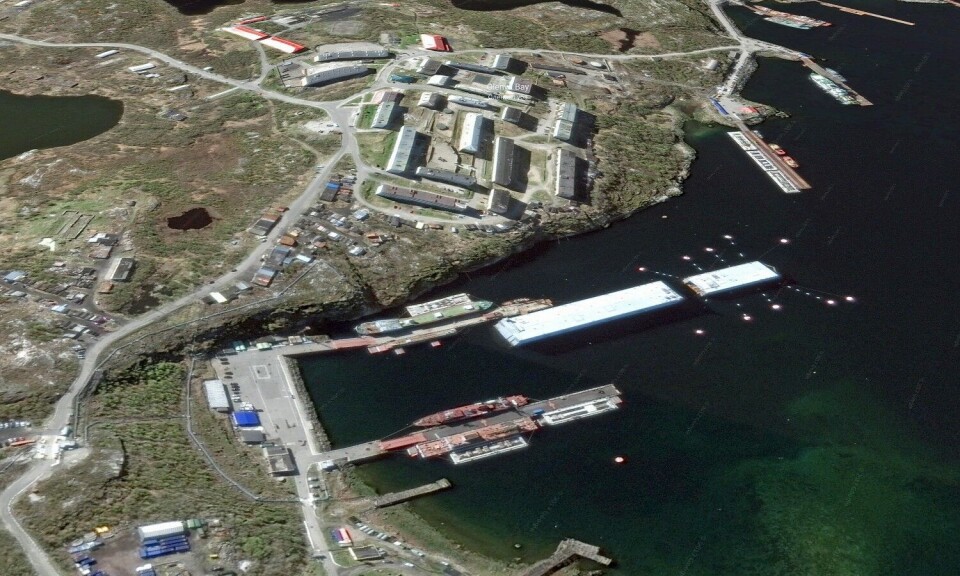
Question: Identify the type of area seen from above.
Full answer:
The area seen from above is a port.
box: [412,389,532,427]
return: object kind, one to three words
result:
ship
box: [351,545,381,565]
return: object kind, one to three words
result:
building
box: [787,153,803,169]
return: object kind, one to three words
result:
boat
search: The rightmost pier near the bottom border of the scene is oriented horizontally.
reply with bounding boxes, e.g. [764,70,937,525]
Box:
[523,538,611,576]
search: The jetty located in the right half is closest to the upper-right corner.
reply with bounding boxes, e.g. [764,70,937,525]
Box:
[820,0,914,26]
